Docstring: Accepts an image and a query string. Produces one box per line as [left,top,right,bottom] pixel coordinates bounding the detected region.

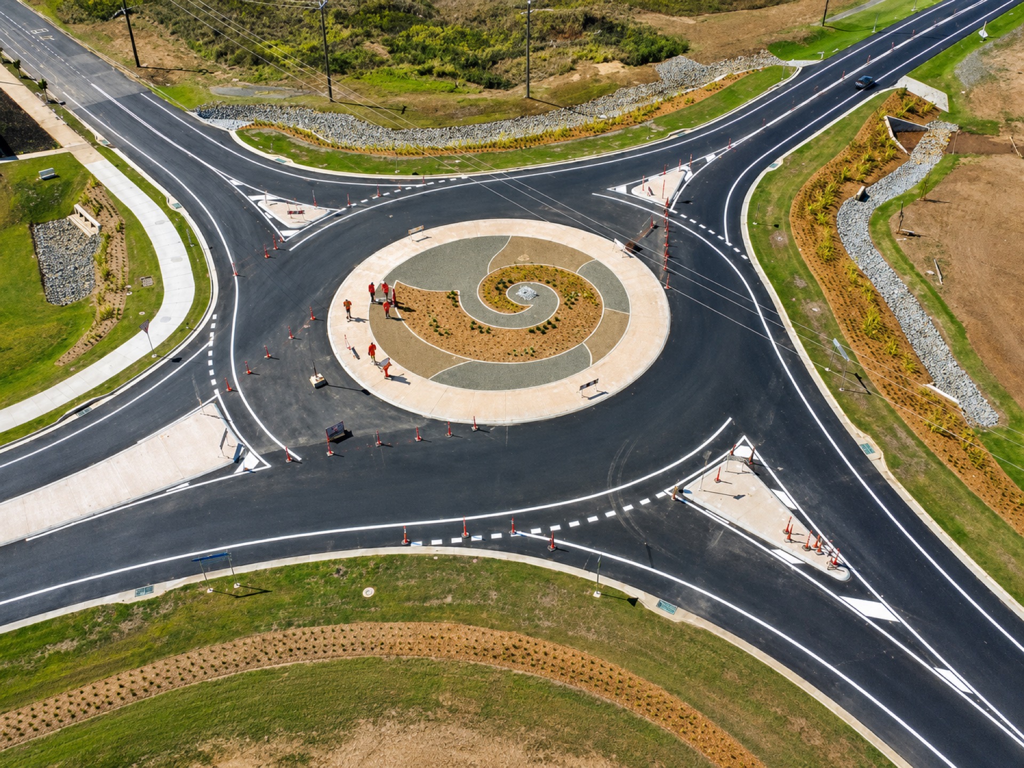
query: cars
[852,70,879,90]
